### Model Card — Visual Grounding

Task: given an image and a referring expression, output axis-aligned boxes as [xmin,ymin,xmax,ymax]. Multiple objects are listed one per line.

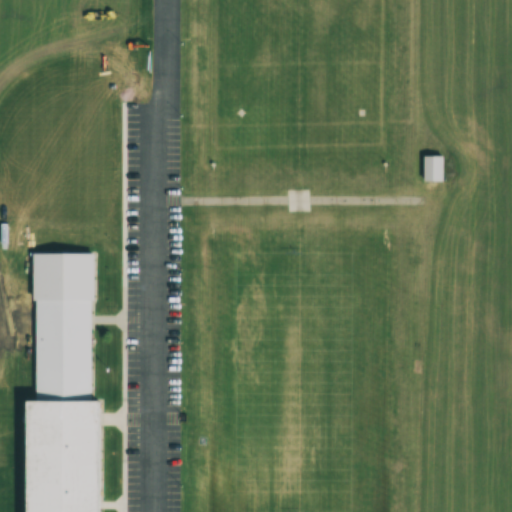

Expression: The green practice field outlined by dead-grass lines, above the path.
[216,0,383,149]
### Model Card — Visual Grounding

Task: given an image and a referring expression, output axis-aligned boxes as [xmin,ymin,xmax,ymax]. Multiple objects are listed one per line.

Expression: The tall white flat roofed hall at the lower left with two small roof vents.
[26,400,104,512]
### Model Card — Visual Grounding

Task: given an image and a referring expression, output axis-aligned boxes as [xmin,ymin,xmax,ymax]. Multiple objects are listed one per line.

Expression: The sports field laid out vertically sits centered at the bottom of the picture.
[236,252,353,512]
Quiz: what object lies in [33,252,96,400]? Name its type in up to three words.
building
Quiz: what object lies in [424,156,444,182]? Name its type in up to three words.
shed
